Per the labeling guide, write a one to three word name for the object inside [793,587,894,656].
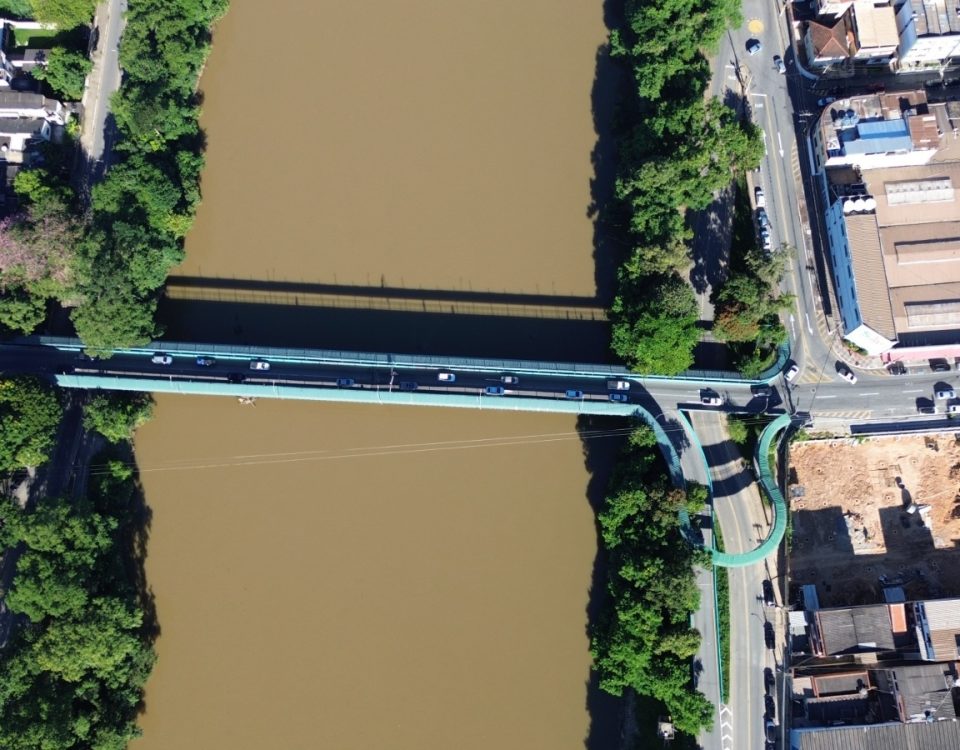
house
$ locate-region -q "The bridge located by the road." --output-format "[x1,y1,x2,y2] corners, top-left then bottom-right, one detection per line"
[0,343,788,415]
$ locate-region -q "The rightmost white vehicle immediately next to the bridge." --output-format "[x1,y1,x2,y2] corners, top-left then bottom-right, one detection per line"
[783,364,800,382]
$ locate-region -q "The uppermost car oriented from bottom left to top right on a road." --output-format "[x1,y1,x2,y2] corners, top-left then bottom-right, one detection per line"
[744,39,763,55]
